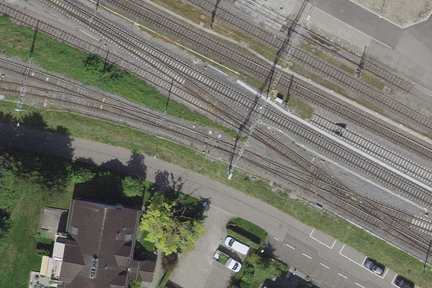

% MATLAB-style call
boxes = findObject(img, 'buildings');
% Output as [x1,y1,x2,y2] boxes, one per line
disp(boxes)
[41,201,150,288]
[38,208,68,236]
